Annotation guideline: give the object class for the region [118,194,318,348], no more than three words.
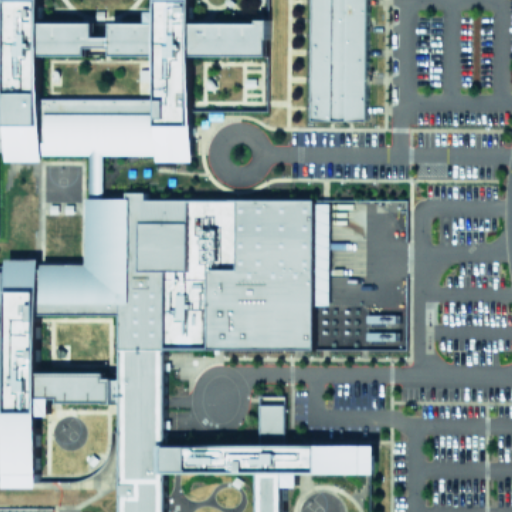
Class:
building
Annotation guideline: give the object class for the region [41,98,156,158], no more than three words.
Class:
building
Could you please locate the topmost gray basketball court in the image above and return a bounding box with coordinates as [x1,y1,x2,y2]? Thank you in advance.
[46,166,82,202]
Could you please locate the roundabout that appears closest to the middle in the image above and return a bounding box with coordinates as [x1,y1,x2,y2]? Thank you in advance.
[212,119,272,185]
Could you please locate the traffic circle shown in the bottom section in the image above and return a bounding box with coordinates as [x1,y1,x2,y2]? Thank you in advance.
[190,364,254,436]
